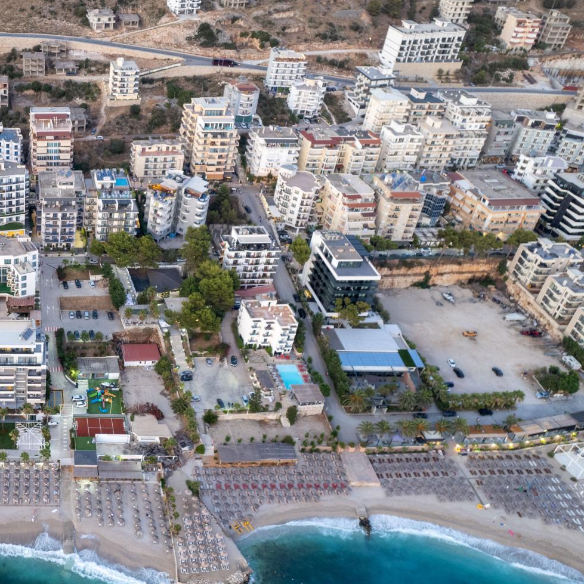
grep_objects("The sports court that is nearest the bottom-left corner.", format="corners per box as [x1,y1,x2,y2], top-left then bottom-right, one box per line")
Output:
[75,418,125,436]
